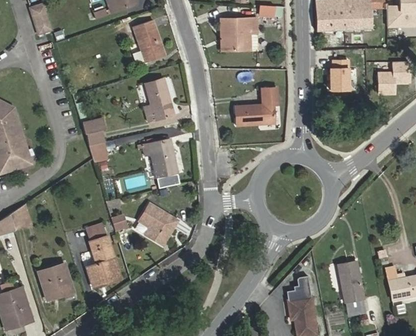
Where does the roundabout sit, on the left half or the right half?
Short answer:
right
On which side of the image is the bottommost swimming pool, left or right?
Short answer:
left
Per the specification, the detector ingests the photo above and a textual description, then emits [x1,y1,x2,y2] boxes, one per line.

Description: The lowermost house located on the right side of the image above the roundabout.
[235,86,280,126]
